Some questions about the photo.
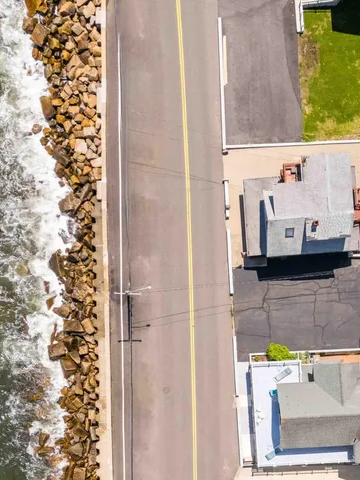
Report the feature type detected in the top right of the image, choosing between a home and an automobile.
home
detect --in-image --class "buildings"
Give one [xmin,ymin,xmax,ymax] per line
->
[296,0,341,39]
[250,352,360,468]
[243,152,360,262]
